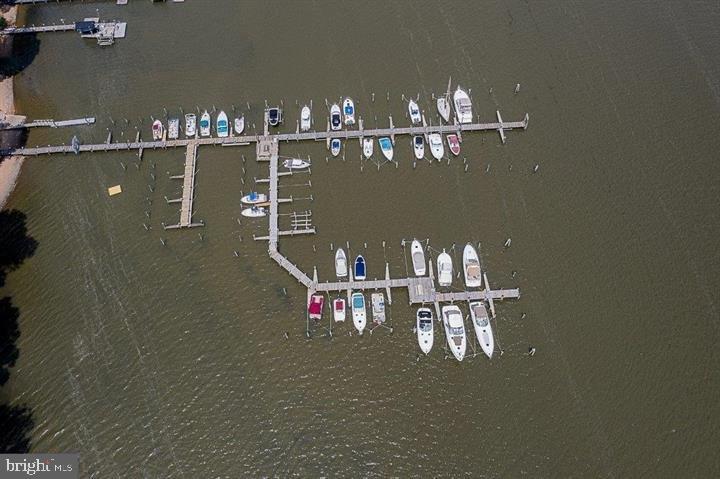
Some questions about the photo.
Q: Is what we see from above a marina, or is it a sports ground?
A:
marina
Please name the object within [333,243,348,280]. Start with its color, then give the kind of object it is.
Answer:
white boat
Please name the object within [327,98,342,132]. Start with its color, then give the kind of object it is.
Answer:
white boat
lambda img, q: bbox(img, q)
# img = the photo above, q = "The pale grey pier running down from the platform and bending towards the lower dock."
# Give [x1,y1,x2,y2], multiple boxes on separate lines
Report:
[252,140,316,290]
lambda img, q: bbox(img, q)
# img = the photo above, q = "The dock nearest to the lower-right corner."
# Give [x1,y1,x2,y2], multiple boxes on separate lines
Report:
[306,242,520,353]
